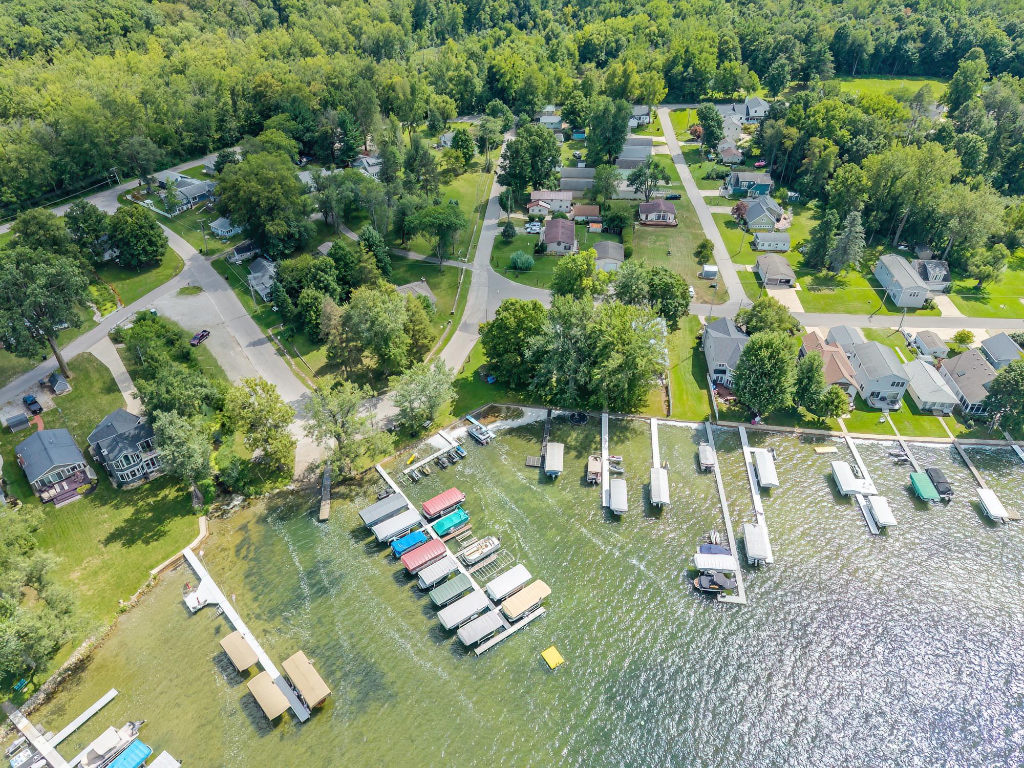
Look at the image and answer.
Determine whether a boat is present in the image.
Yes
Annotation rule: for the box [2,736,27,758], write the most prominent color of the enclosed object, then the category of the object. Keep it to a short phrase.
white boat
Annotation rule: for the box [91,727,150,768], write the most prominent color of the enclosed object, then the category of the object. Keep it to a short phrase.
white boat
